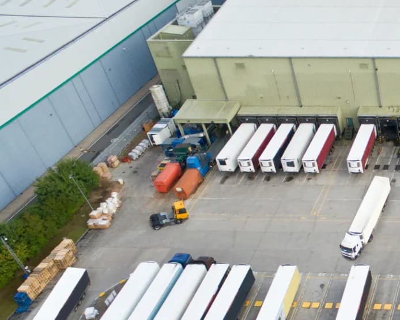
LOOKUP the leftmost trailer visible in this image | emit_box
[34,268,94,320]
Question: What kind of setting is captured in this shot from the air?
industrial area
